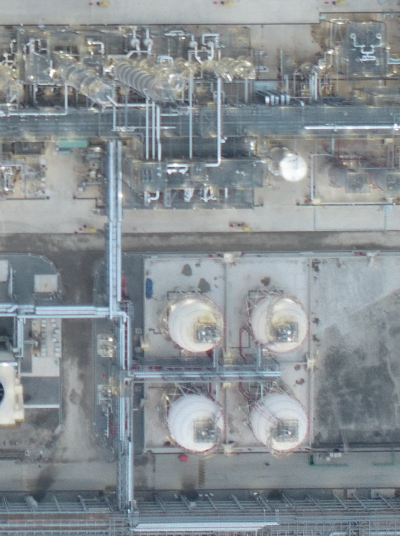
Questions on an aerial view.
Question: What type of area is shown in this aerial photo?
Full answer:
The picture captures an industrial area.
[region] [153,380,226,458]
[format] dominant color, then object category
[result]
white storage tank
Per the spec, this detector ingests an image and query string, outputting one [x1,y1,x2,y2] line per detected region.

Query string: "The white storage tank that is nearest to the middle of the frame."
[156,283,225,355]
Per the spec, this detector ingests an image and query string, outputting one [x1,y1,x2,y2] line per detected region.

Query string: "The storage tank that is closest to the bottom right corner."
[239,380,313,454]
